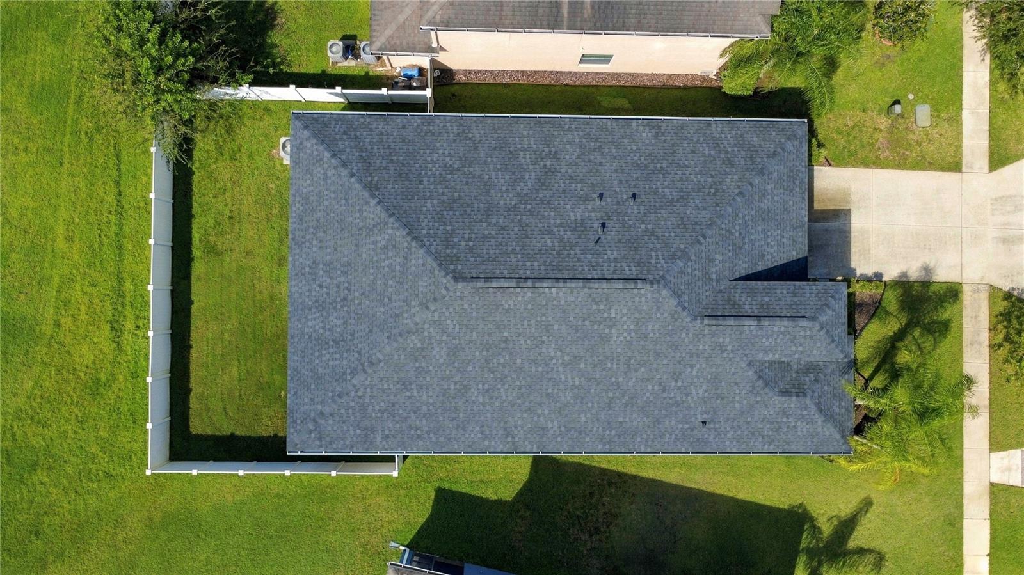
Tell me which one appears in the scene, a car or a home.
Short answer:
home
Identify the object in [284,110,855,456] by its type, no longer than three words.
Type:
house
